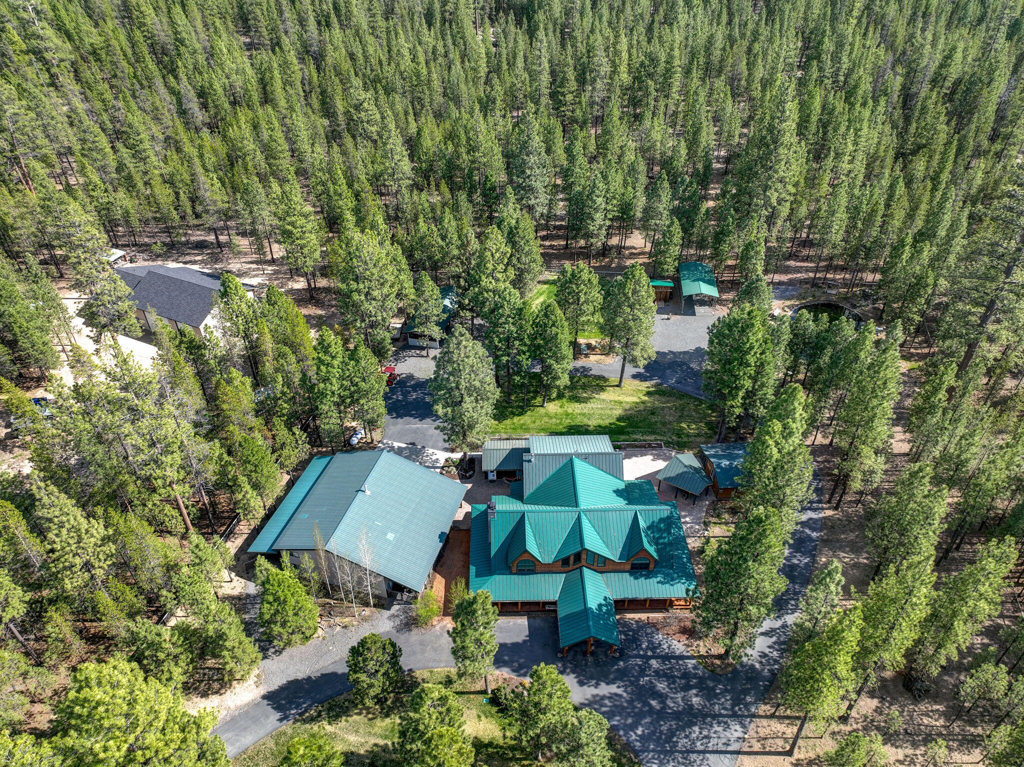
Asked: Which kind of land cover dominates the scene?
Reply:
trees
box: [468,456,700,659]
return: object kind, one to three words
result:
house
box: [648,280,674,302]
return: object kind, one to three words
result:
shed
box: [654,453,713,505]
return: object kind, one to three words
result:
gazebo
